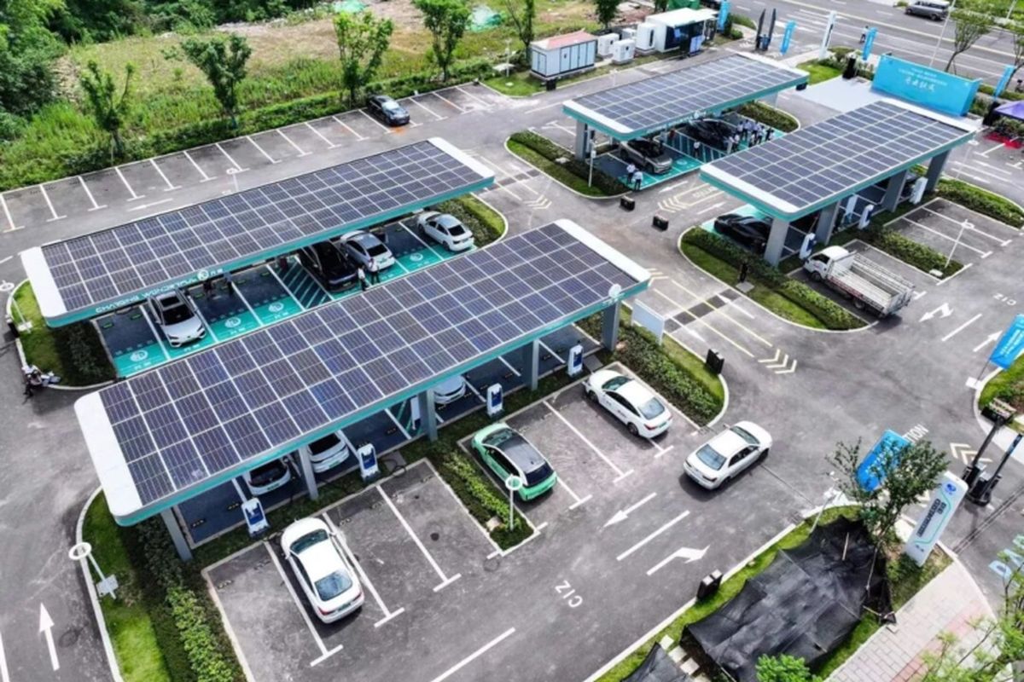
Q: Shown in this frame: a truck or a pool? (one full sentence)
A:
There is a truck in the scene.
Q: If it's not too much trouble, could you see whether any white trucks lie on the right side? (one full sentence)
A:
Yes, a white truck shows up on the right side.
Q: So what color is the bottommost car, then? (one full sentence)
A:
The bottommost car is white.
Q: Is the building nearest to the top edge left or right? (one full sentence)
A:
You can find the building nearest to the top edge on the right side of the picture.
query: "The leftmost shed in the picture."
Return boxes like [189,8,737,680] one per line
[527,33,601,77]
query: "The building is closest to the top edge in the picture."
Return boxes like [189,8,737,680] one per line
[651,3,724,50]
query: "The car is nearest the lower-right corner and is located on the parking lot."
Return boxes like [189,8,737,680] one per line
[685,419,771,493]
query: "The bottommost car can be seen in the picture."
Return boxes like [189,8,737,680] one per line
[279,515,364,626]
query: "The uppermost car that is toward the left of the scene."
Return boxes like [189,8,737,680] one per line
[366,95,410,125]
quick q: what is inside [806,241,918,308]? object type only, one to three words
truck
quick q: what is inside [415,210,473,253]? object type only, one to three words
car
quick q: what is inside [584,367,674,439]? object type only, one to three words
car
